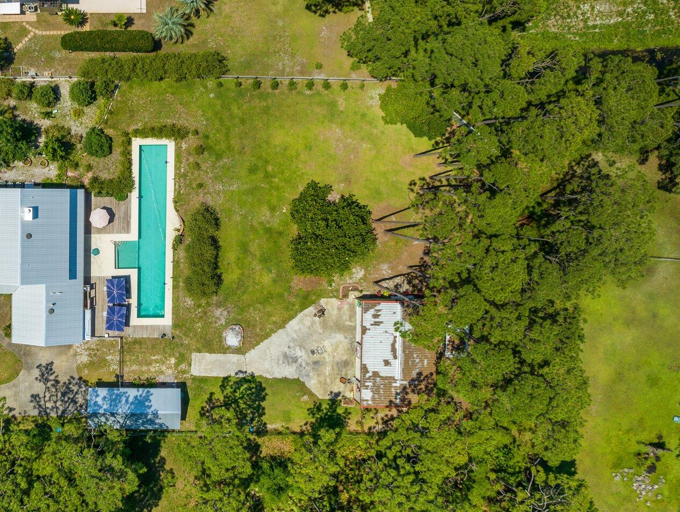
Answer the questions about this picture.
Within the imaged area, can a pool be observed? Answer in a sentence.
Yes, there's a pool here.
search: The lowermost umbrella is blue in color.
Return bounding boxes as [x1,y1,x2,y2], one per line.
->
[105,305,127,332]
